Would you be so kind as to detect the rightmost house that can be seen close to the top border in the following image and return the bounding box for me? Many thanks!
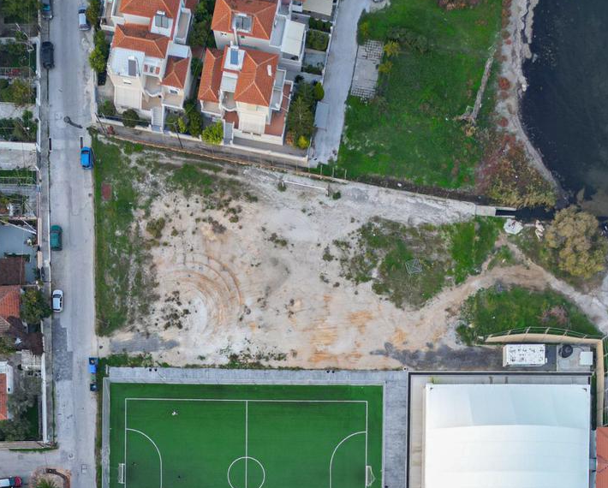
[197,0,333,147]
